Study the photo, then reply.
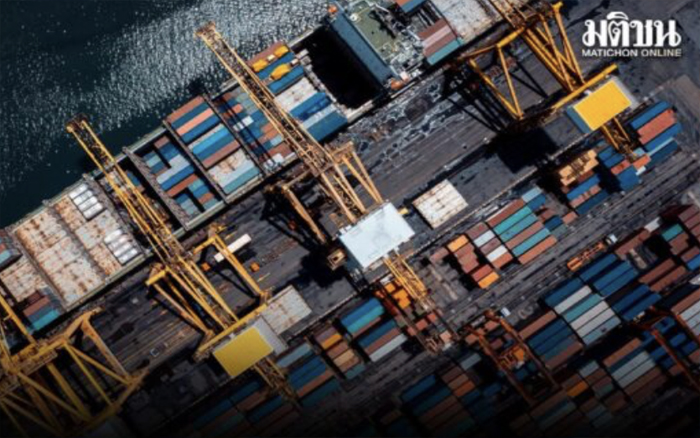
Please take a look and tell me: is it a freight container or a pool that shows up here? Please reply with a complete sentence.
This aerial view contains a freight container.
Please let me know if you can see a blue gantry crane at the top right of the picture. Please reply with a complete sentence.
No, I can find no blue gantry crane at the top right of the picture.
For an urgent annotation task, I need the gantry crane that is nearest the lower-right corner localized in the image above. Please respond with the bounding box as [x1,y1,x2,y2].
[625,306,700,398]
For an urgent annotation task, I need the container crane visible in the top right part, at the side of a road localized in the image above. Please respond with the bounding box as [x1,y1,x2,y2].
[457,0,646,168]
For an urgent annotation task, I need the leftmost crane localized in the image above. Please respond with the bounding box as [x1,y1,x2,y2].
[0,284,145,438]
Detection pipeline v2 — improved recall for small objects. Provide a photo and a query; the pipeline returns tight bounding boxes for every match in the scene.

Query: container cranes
[55,112,299,404]
[200,21,435,311]
[625,306,700,398]
[367,267,457,354]
[0,284,145,438]
[457,0,646,168]
[448,300,555,405]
